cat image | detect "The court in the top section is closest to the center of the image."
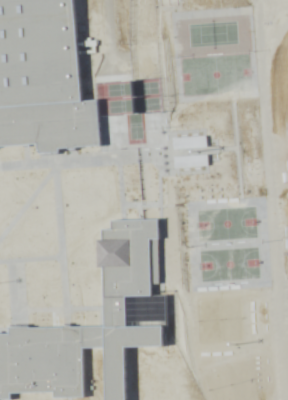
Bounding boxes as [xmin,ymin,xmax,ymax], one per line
[128,114,146,145]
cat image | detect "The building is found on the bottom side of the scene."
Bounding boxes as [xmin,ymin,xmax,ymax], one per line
[0,219,164,400]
